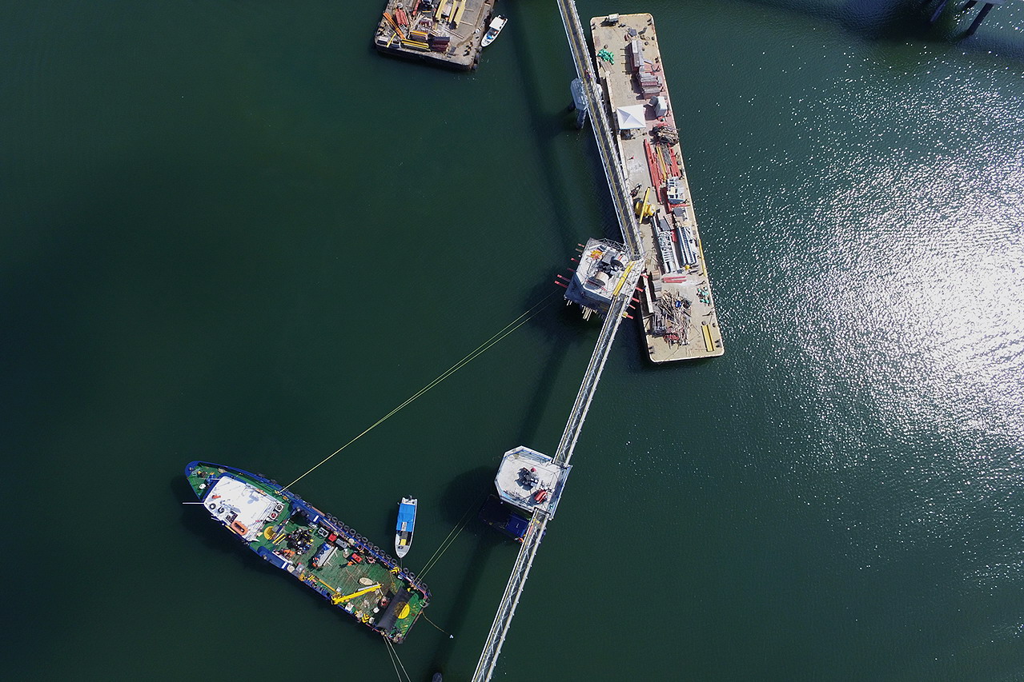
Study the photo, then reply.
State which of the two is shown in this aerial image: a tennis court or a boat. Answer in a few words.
boat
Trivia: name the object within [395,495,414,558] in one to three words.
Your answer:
boat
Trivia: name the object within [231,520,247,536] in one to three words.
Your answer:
boat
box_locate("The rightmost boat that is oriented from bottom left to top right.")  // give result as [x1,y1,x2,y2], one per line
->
[483,10,510,48]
